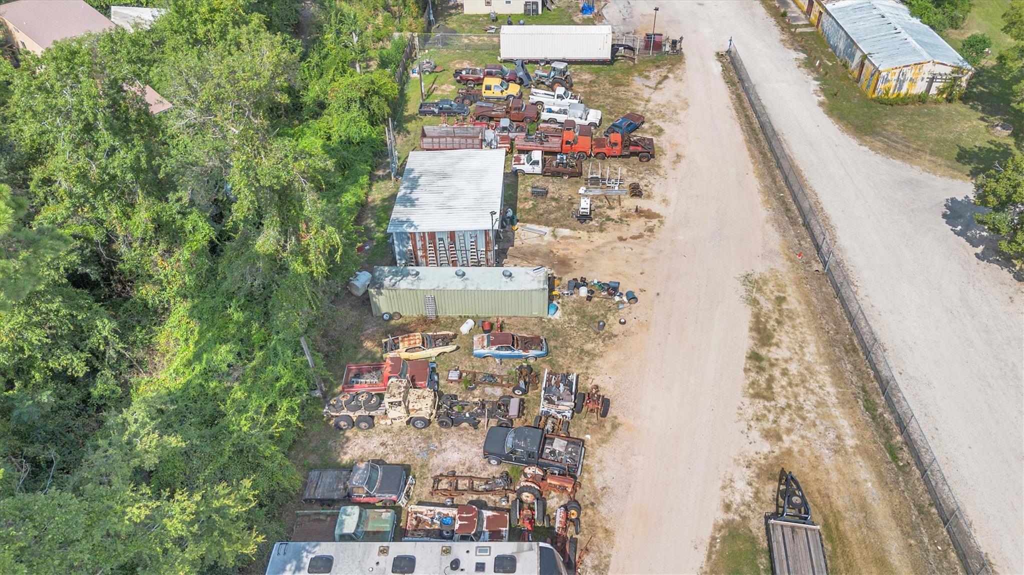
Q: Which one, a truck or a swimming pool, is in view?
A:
truck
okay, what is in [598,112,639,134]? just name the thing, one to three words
car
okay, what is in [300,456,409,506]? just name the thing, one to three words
truck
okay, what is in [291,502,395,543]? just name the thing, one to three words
truck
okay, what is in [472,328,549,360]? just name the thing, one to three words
car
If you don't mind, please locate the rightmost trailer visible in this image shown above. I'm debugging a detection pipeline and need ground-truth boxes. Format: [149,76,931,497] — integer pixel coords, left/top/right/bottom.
[766,471,827,575]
